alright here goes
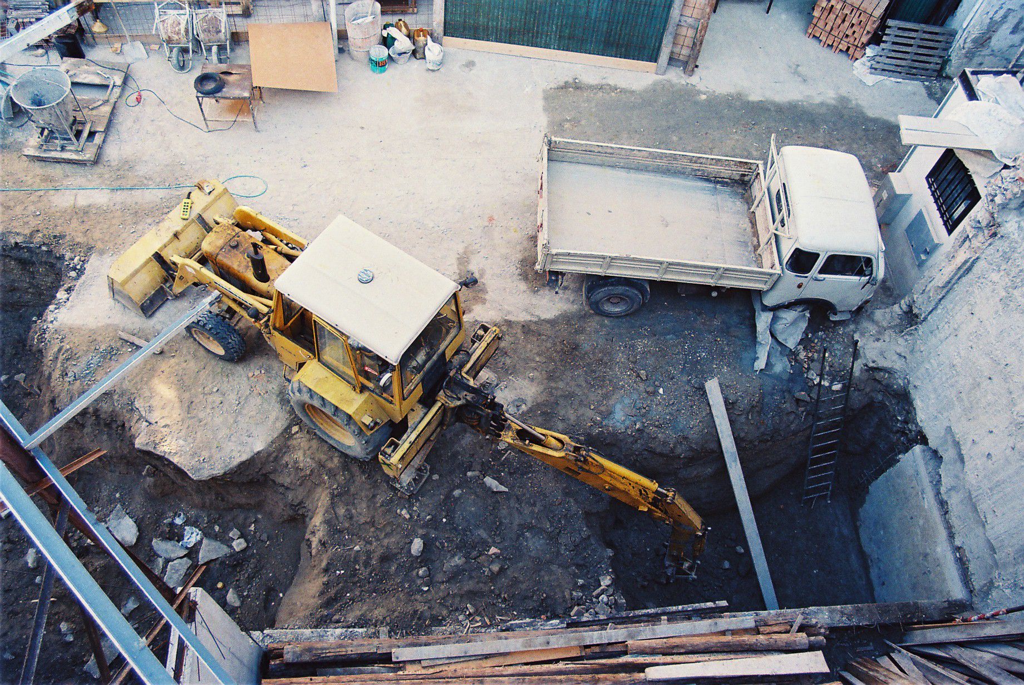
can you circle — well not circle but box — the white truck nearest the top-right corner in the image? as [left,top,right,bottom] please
[538,117,892,328]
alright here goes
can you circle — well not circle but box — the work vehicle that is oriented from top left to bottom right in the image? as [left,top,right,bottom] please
[101,179,707,607]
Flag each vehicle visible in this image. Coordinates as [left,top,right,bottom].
[538,117,892,328]
[101,179,707,607]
